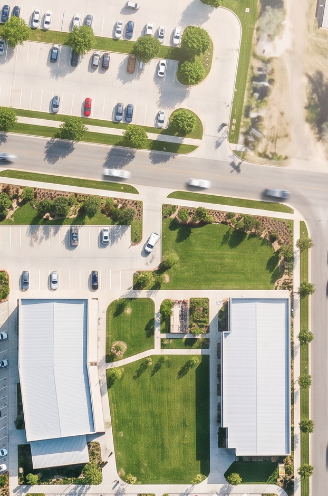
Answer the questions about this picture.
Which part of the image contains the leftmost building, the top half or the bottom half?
bottom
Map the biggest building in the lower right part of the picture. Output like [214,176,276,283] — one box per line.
[220,298,291,456]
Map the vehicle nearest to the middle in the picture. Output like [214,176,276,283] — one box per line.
[145,231,159,253]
